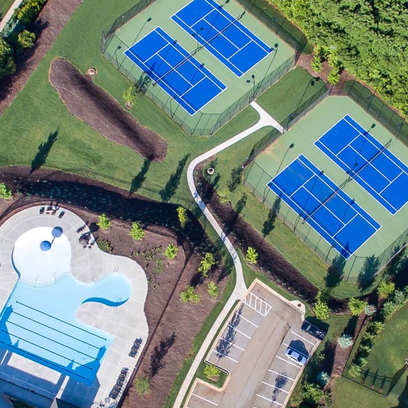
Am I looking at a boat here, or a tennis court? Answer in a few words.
tennis court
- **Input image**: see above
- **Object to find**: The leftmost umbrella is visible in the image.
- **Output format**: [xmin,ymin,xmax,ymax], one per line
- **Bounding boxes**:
[75,232,90,246]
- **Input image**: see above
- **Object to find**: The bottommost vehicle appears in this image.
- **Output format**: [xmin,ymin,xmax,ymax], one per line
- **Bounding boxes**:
[286,346,310,365]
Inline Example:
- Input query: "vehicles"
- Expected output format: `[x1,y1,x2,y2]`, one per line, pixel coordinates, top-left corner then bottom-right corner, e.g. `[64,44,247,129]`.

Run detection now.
[286,346,310,365]
[298,319,327,341]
